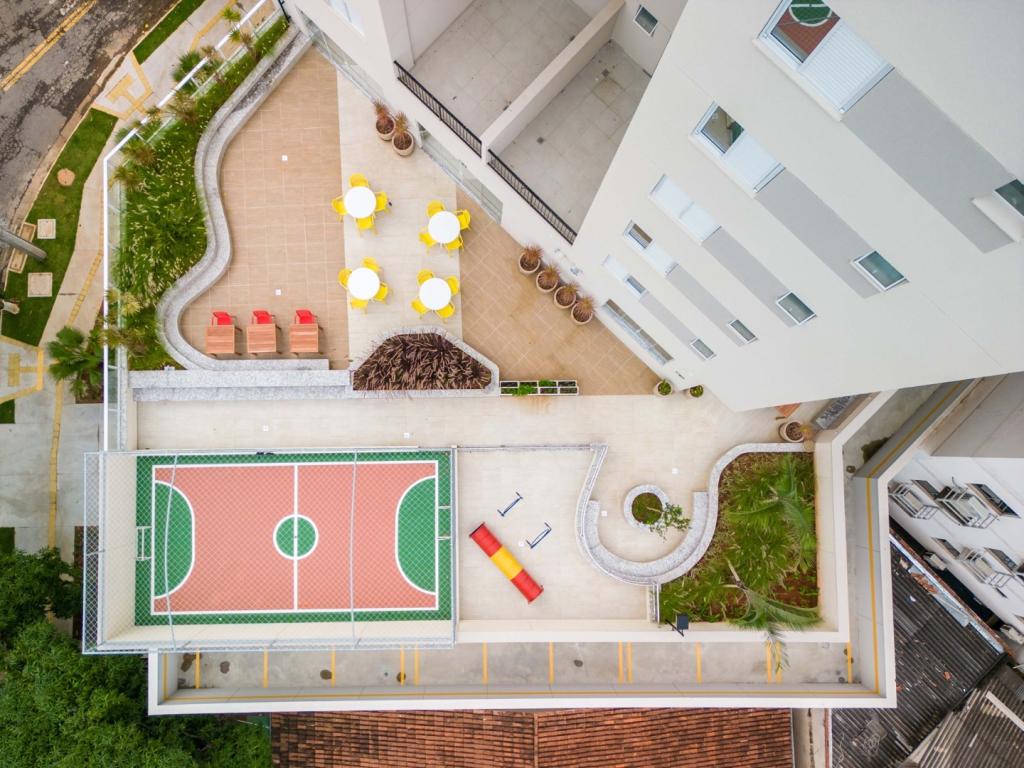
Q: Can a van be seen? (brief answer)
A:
No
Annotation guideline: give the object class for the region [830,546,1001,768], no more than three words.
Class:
shed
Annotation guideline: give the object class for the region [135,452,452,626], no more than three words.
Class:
sports court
